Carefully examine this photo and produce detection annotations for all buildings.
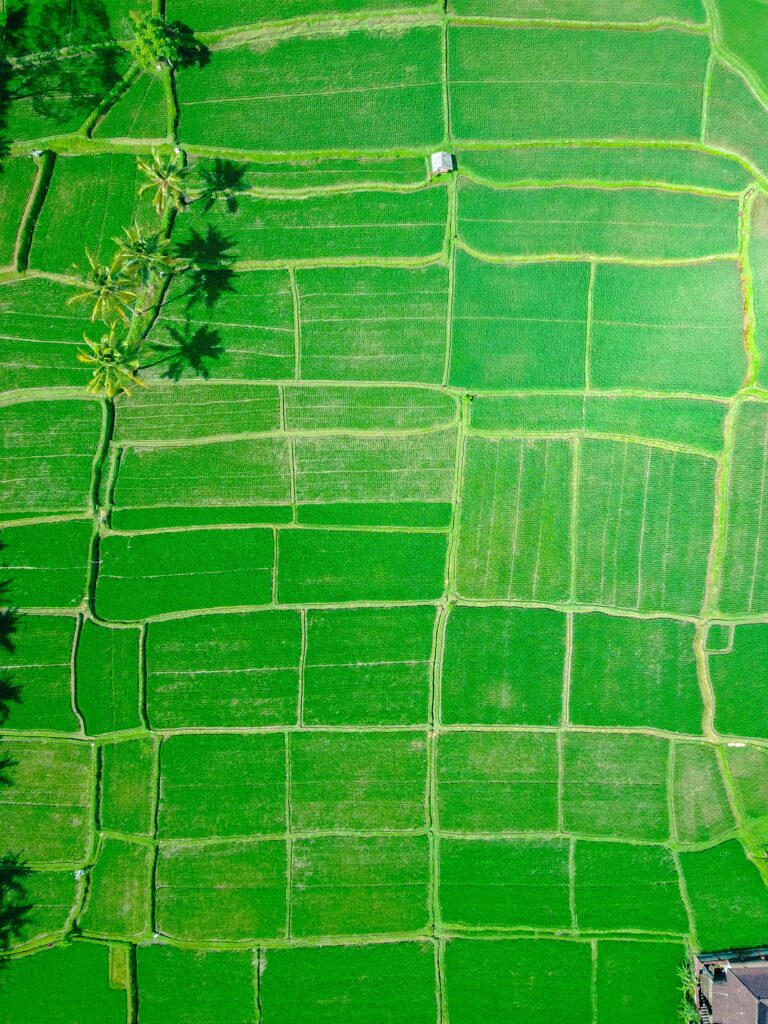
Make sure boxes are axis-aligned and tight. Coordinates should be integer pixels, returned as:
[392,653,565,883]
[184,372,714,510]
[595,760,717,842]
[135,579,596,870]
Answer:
[701,960,768,1024]
[432,152,452,177]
